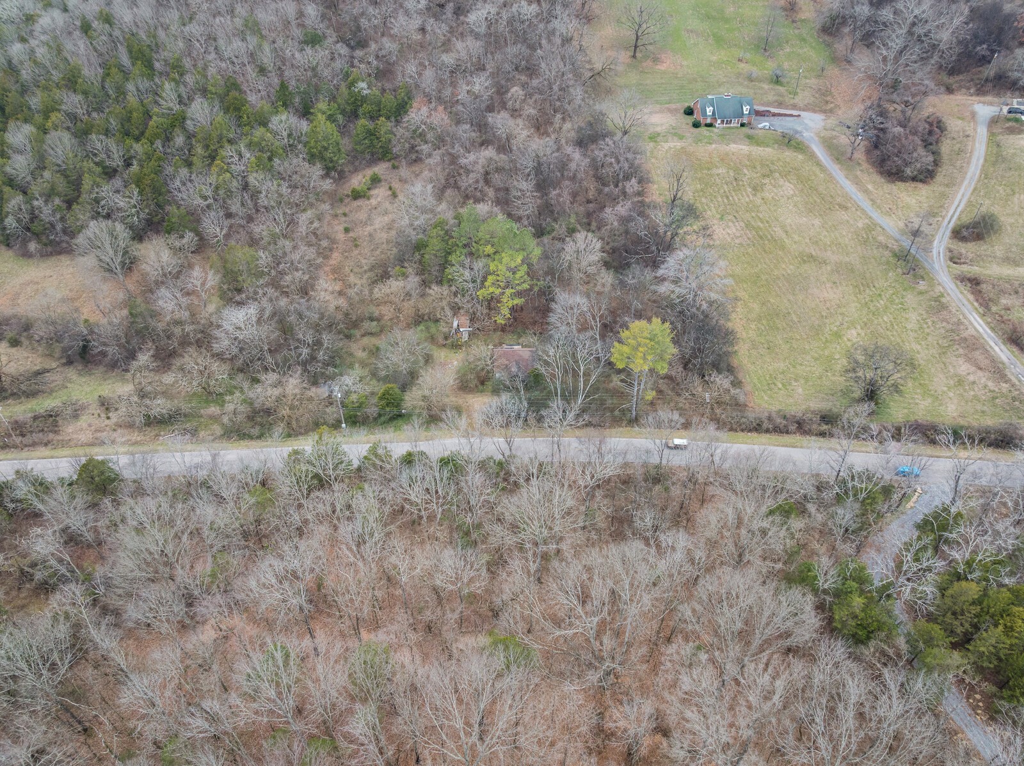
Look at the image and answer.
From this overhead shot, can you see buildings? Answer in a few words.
Yes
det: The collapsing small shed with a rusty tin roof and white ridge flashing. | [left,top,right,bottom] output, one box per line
[451,312,472,340]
